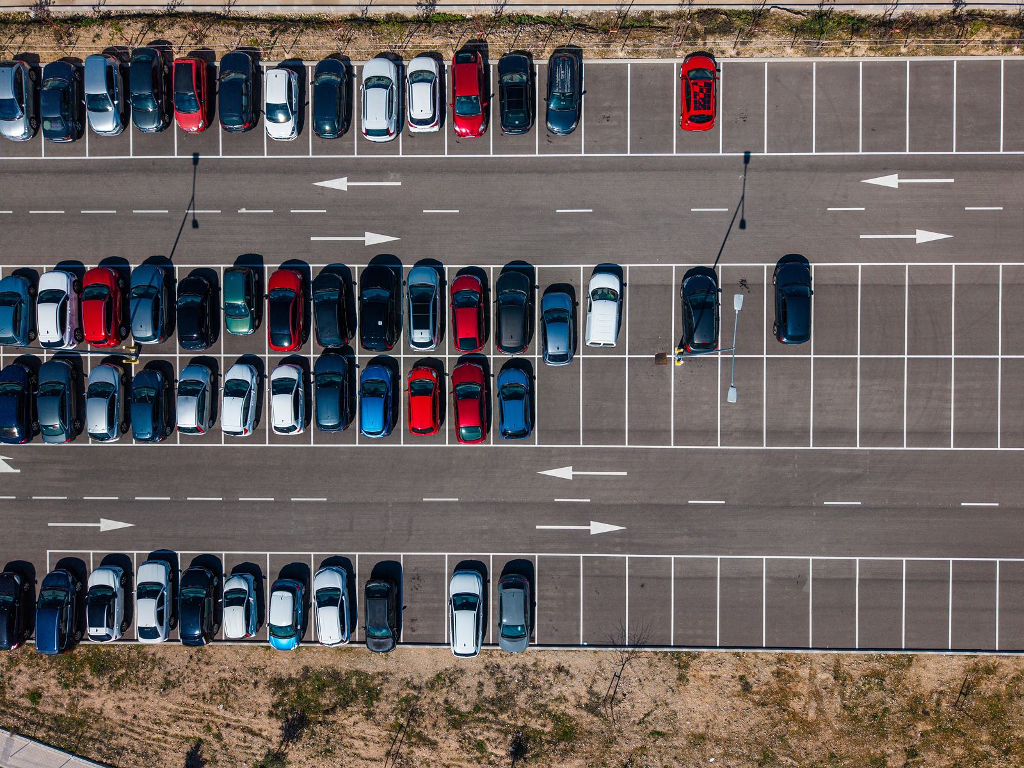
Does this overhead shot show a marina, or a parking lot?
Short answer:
parking lot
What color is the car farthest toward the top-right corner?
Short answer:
red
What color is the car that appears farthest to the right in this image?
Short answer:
black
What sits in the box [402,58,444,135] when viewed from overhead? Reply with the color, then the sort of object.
white car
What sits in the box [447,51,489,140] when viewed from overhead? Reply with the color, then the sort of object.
red car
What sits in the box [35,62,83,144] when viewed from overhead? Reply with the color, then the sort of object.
black car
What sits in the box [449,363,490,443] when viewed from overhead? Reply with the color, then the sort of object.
red car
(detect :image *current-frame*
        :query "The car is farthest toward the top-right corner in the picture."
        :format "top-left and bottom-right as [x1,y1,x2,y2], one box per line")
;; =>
[679,56,722,133]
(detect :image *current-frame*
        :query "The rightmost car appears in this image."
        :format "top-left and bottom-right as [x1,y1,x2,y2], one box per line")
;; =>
[772,263,818,345]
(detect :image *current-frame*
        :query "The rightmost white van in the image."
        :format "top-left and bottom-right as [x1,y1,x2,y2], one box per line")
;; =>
[584,274,625,348]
